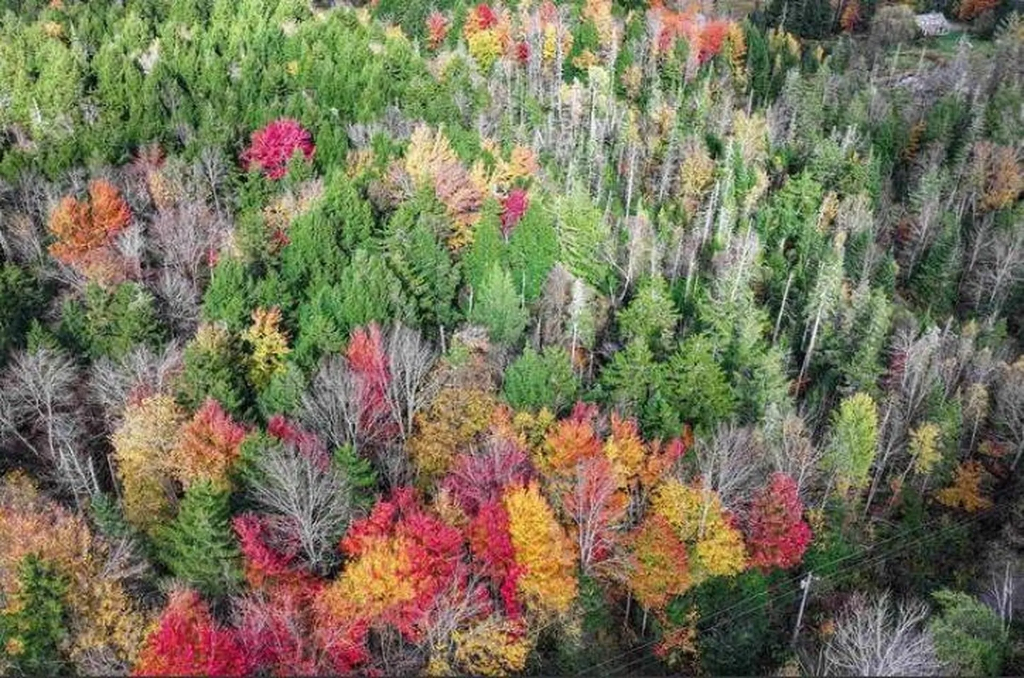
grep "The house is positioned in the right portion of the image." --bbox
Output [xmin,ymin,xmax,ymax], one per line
[913,12,953,36]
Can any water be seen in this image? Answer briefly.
No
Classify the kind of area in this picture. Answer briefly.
forest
